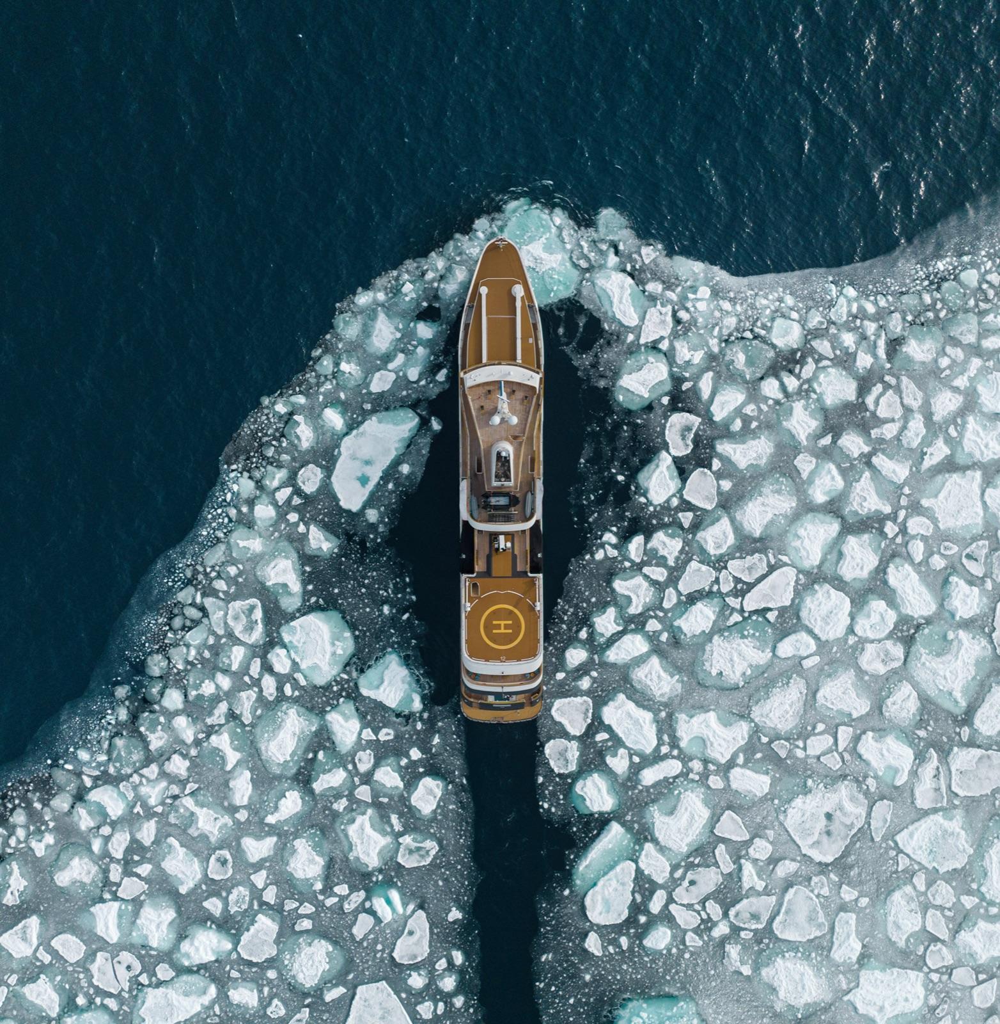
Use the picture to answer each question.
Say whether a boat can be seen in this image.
Yes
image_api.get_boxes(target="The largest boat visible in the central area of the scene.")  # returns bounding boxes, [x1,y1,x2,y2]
[459,236,544,722]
